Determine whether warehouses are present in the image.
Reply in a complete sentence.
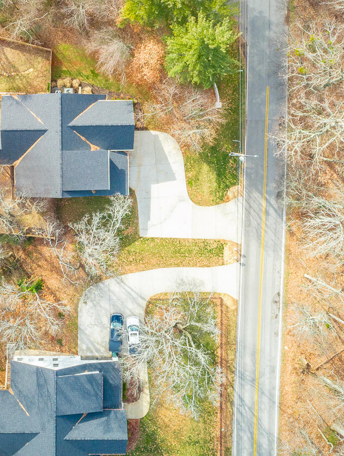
No, there is no warehouse in the image.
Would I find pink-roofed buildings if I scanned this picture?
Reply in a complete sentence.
No, there appears to be no pink-roofed building in this shot.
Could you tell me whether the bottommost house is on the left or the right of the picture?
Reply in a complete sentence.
The bottommost house appears in the left half of the scene.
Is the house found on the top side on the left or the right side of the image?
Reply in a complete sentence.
The house found on the top side appears in the left half of the scene.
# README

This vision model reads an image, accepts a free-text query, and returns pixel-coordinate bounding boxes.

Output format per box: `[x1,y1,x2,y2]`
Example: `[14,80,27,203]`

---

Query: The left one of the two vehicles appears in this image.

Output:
[109,314,125,353]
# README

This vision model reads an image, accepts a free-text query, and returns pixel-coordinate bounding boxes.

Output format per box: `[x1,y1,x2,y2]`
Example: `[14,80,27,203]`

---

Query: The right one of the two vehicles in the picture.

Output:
[125,317,141,357]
